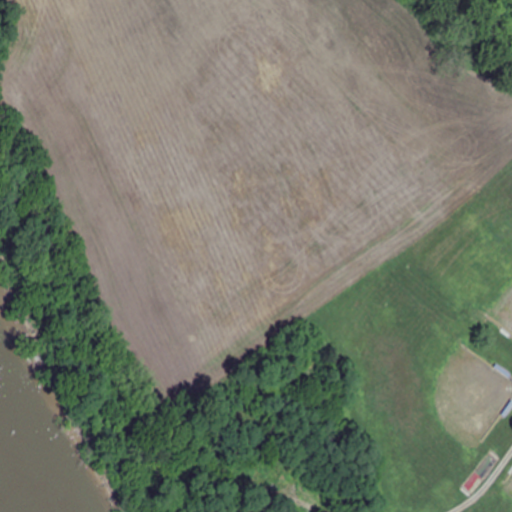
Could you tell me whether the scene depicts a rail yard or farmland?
farmland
